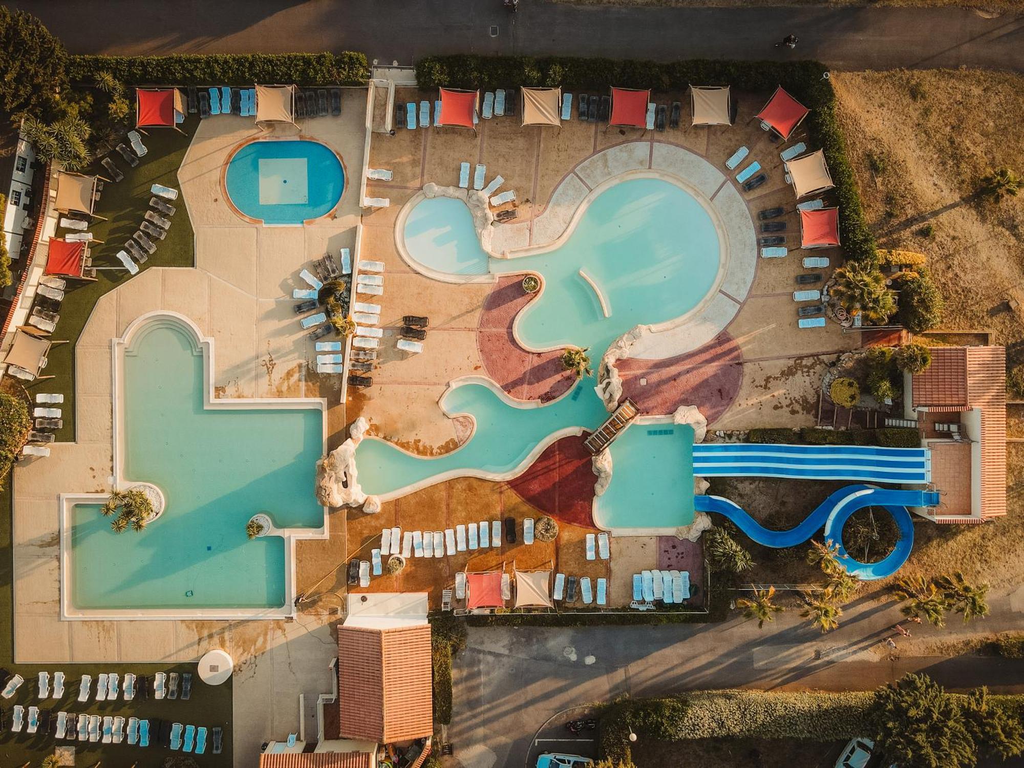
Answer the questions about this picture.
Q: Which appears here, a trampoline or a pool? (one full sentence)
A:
This aerial view contains a pool.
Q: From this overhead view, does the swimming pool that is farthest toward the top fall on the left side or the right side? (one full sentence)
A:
The swimming pool that is farthest toward the top appears in the left half of the scene.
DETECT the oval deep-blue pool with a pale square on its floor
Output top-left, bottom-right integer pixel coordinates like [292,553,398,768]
[222,136,348,225]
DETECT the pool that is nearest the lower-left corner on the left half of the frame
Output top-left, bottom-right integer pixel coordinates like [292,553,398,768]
[60,310,328,620]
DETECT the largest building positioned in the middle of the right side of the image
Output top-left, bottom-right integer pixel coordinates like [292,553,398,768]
[890,346,1008,522]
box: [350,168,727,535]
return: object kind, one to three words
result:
swimming pool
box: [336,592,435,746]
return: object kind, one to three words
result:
building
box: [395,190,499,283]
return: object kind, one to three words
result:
swimming pool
